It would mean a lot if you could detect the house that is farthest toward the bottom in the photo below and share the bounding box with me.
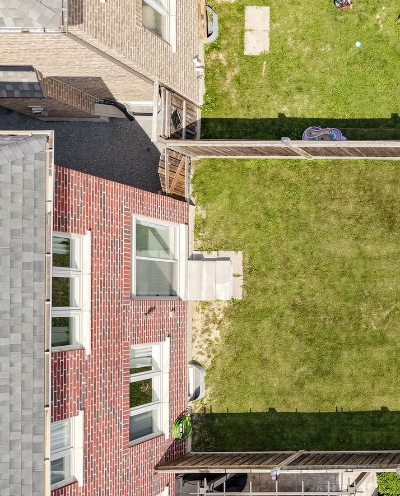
[0,131,192,496]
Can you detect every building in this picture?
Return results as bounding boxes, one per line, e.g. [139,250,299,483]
[0,131,192,496]
[0,0,204,125]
